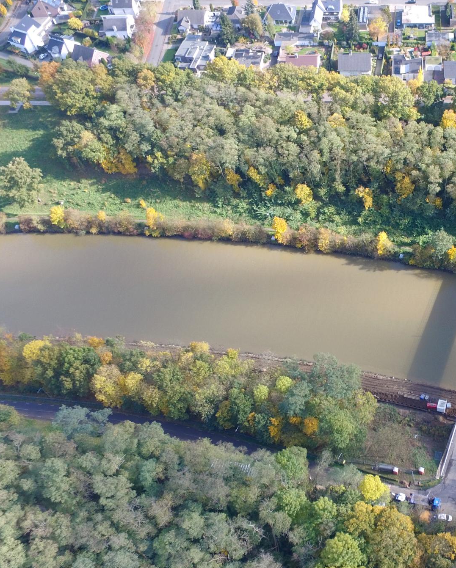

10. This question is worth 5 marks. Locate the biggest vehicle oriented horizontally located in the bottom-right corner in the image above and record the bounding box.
[408,494,442,507]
